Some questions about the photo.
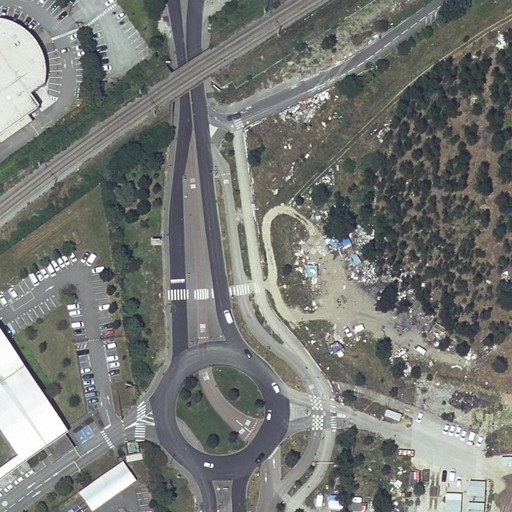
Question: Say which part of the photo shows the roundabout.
bottom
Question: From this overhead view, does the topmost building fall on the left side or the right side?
left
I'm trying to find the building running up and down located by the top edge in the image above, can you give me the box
[0,16,58,142]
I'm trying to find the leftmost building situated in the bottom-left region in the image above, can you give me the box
[0,326,76,480]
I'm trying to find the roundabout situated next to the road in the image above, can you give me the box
[148,333,312,512]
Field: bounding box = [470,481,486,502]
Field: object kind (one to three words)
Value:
shed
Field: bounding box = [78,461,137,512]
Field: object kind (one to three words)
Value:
building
